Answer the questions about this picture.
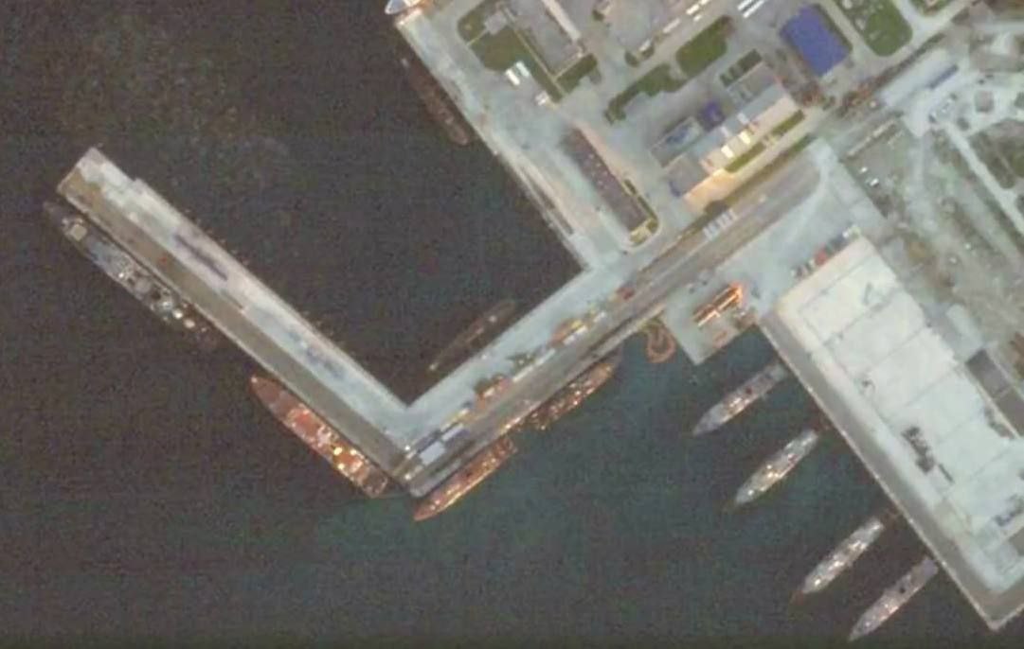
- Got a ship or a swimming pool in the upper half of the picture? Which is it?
ship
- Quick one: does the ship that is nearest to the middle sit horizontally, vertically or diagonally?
diagonally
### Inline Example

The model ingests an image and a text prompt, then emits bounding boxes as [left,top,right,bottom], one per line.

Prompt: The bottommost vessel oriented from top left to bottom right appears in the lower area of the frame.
[249,375,389,498]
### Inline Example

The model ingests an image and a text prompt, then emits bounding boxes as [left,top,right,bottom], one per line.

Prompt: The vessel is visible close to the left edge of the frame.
[44,199,222,348]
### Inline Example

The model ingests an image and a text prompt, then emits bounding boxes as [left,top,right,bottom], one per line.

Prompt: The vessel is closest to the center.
[430,298,521,369]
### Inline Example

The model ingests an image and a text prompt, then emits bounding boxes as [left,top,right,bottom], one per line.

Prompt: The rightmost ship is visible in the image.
[851,557,944,640]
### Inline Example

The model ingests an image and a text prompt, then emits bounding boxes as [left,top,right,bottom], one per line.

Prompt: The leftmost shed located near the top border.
[484,8,509,34]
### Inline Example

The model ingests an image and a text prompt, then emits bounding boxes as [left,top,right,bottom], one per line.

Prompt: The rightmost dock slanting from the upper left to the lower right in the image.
[761,235,1024,628]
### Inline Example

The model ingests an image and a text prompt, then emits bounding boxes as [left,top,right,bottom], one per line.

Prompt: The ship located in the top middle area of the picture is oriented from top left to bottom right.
[402,59,470,146]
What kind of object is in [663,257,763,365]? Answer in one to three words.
pier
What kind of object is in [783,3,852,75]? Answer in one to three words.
building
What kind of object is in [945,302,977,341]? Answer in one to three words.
shed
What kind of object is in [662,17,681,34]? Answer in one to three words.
vehicle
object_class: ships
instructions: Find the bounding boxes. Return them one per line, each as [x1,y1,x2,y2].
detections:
[249,375,389,498]
[851,557,944,640]
[383,0,421,14]
[430,298,521,369]
[523,361,620,436]
[736,427,824,507]
[694,362,792,435]
[795,511,889,599]
[414,439,522,521]
[402,59,470,146]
